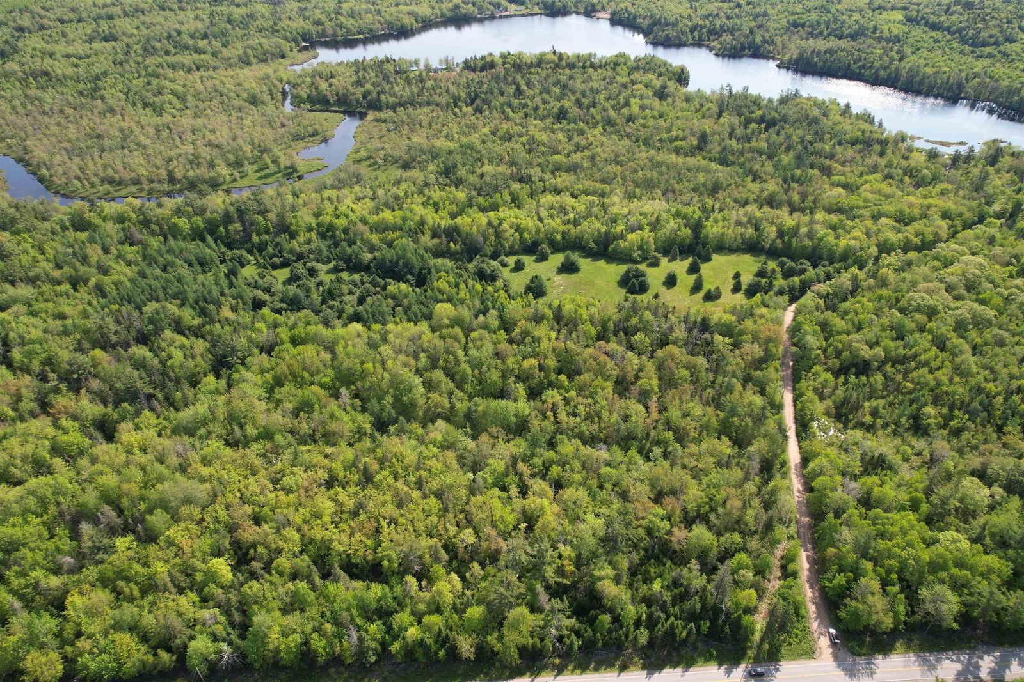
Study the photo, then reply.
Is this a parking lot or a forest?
forest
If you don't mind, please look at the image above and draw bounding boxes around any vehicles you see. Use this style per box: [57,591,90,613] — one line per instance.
[827,627,842,645]
[749,669,766,678]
